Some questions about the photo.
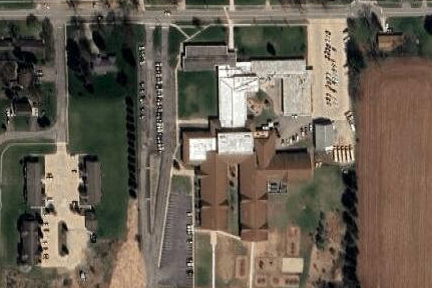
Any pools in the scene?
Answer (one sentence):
No, no pool is visible in the scene.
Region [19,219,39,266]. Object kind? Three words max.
building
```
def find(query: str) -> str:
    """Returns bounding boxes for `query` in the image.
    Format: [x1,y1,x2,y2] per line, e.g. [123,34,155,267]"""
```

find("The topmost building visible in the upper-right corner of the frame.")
[377,34,402,50]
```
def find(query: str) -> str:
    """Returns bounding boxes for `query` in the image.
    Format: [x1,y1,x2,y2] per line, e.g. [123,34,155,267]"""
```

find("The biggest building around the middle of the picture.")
[182,46,313,241]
